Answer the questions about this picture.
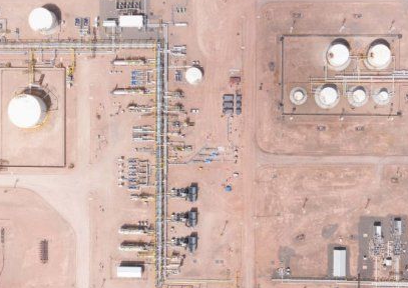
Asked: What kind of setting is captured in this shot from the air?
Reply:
industrial area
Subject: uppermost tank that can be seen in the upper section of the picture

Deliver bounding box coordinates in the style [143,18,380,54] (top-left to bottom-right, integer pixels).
[26,6,59,35]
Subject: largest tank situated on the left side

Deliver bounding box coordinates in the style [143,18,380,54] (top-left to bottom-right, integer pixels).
[9,87,54,129]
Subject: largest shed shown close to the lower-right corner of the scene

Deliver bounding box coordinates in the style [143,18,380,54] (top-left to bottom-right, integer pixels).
[333,248,346,276]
